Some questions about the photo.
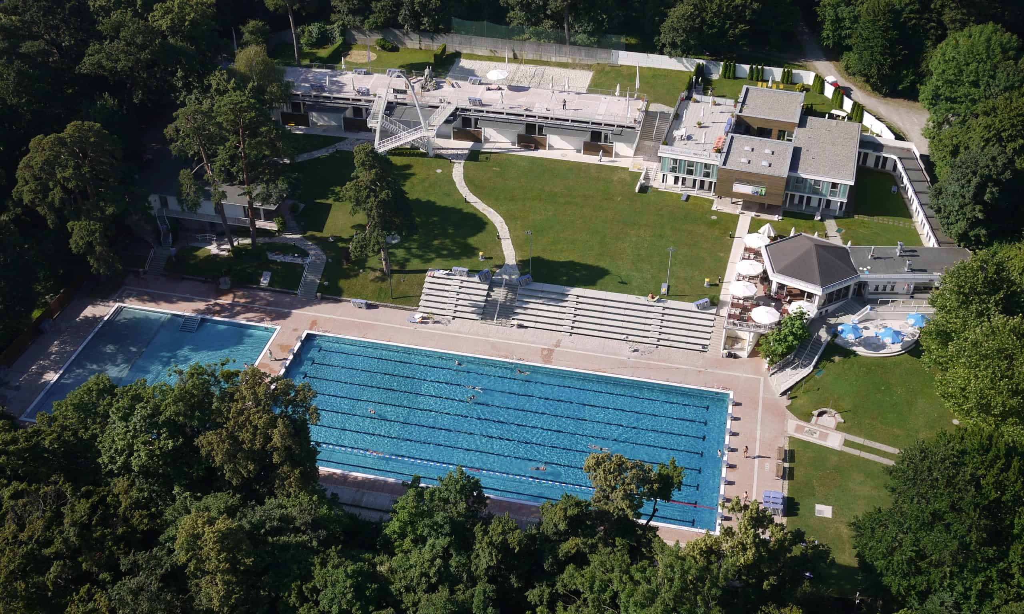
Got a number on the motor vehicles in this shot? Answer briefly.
1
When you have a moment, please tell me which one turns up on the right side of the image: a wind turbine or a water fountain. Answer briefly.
water fountain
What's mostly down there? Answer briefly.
trees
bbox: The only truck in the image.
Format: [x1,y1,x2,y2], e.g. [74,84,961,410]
[825,68,852,92]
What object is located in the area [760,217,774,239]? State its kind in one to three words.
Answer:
umbrella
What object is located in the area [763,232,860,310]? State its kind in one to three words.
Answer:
building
